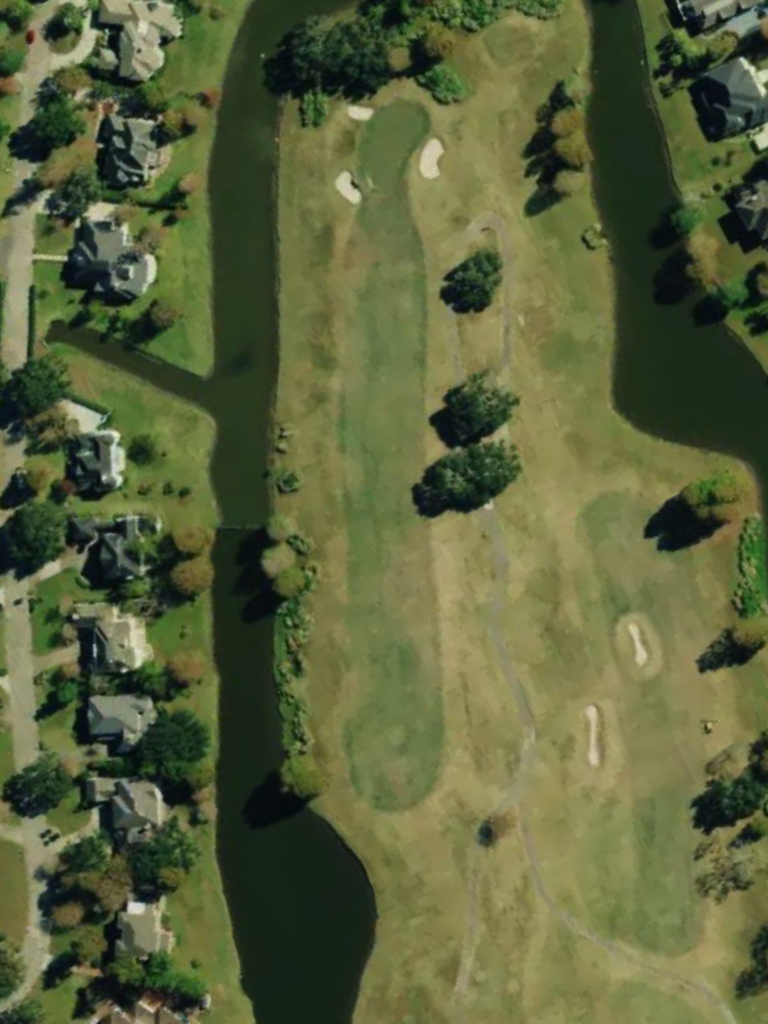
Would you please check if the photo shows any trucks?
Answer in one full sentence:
No, the photo shows no truck.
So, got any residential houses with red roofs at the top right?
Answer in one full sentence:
No, the scene shows no residential house with a red roof at the top right.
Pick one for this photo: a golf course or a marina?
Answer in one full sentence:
It's a golf course.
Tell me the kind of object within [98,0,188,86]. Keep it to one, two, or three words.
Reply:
house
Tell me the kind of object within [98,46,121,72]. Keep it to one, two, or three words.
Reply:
building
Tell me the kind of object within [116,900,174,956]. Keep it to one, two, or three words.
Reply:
house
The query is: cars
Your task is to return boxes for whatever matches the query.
[11,597,24,606]
[40,829,53,838]
[84,749,97,757]
[46,835,59,845]
[27,30,34,42]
